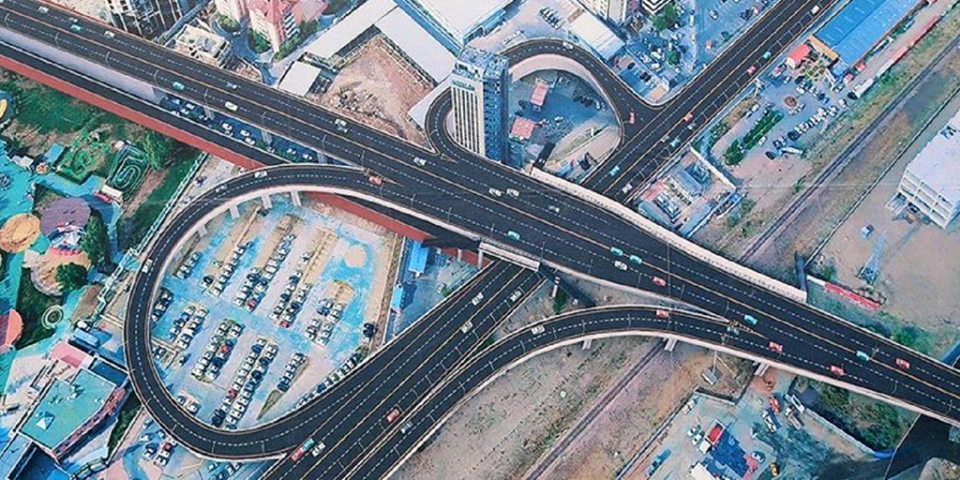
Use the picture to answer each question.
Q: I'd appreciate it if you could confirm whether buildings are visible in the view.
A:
Yes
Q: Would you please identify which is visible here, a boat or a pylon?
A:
pylon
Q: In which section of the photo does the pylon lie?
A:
right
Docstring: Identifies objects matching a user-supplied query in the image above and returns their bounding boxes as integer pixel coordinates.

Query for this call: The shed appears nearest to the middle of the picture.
[409,240,429,279]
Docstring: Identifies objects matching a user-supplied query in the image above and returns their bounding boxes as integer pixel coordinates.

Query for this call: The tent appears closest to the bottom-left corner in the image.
[0,309,24,351]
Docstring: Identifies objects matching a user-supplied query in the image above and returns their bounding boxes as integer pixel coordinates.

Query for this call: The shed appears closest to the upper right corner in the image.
[908,10,945,46]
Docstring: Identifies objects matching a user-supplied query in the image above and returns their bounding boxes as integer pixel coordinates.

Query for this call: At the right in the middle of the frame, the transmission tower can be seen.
[856,229,897,287]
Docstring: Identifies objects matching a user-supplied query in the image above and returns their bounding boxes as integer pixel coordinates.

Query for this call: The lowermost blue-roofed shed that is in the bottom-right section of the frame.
[706,431,748,480]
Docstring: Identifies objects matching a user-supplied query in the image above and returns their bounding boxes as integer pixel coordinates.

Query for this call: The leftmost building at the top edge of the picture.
[103,0,169,38]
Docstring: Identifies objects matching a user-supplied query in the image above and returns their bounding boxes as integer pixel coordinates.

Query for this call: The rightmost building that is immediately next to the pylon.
[897,111,960,235]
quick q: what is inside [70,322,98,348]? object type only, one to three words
building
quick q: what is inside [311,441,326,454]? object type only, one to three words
vehicle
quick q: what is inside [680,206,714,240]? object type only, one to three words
shed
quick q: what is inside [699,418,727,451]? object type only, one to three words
truck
